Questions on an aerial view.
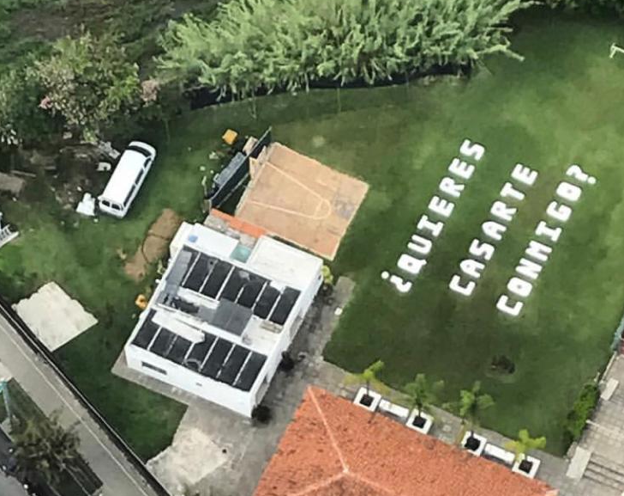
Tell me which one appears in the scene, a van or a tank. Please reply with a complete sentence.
The image shows a van.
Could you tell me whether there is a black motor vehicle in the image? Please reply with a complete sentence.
No, there isn't any black motor vehicle down there.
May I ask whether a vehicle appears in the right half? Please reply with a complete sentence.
No, there is no vehicle in the right half.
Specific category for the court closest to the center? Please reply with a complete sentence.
In the photo, the court closest to the center shows up as a basketball court.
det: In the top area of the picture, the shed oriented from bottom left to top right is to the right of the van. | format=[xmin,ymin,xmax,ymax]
[211,138,255,191]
